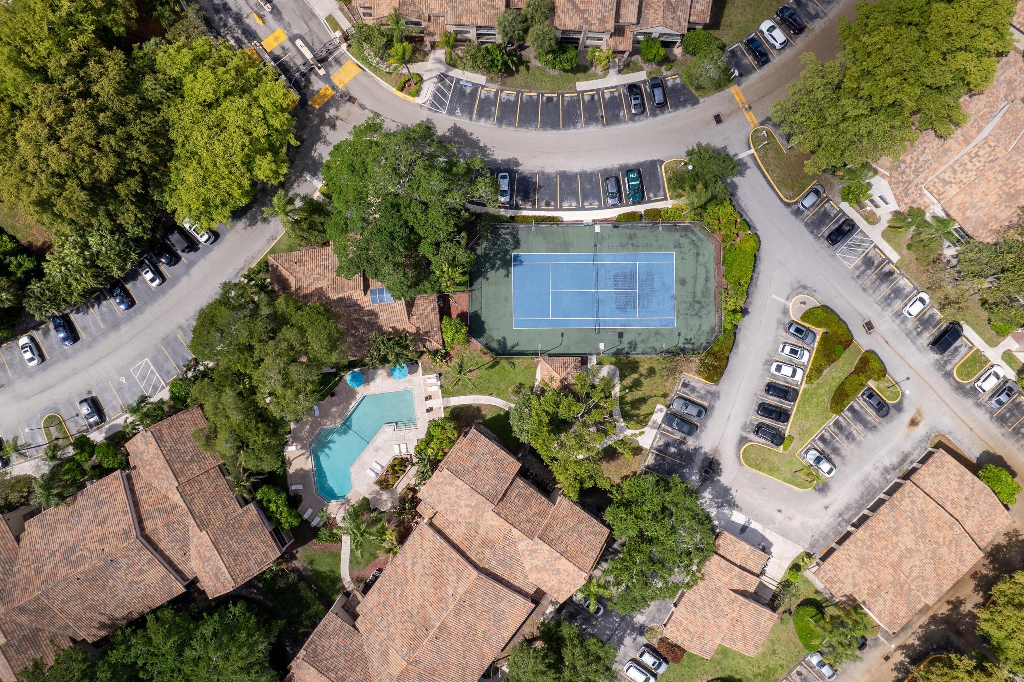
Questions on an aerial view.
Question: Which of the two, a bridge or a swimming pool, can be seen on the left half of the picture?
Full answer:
What appears on the left half of the picture is a swimming pool.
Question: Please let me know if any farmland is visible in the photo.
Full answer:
No, the scene doesn't show any farmland.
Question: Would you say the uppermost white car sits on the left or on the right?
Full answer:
You can find the uppermost white car on the right side of the picture.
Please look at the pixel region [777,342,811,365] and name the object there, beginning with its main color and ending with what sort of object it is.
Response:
white car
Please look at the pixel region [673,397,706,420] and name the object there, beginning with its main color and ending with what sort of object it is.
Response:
gray car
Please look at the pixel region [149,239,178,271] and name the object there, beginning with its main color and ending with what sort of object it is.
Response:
black car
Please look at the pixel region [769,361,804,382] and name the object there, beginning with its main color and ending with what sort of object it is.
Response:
white car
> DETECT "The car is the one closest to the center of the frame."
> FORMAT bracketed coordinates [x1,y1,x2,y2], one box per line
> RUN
[497,171,512,205]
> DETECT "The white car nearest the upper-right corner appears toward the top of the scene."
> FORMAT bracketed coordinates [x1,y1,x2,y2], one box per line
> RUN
[760,18,788,52]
